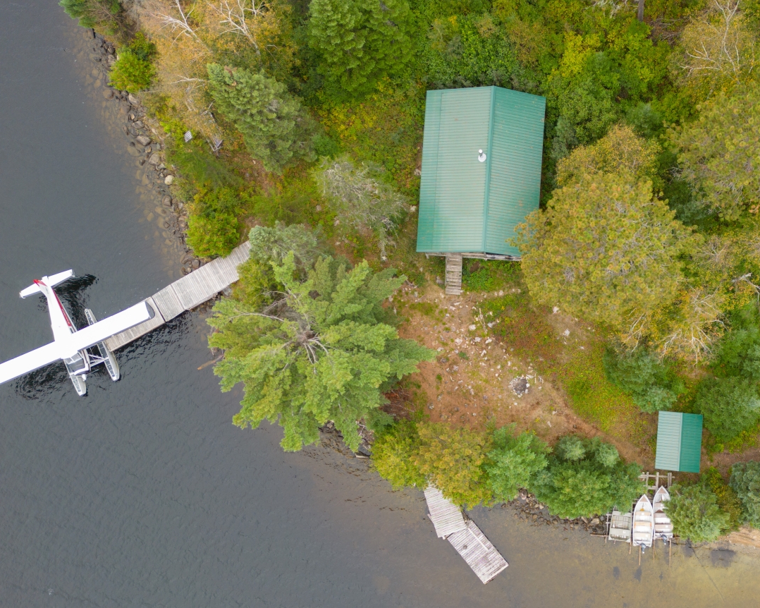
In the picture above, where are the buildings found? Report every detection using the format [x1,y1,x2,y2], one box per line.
[416,85,545,294]
[653,411,703,474]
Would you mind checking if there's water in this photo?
Yes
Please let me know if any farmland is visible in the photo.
No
